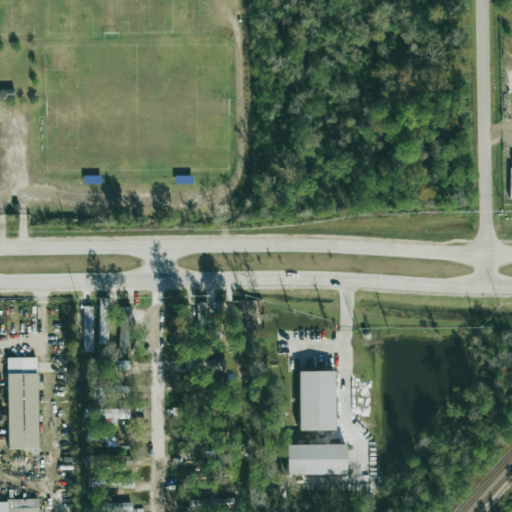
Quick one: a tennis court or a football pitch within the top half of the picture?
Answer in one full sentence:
You can see a football pitch within the top half of the picture.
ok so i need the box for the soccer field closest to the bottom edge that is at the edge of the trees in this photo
[40,40,233,173]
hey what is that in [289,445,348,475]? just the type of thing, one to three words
building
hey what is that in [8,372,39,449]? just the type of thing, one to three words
building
